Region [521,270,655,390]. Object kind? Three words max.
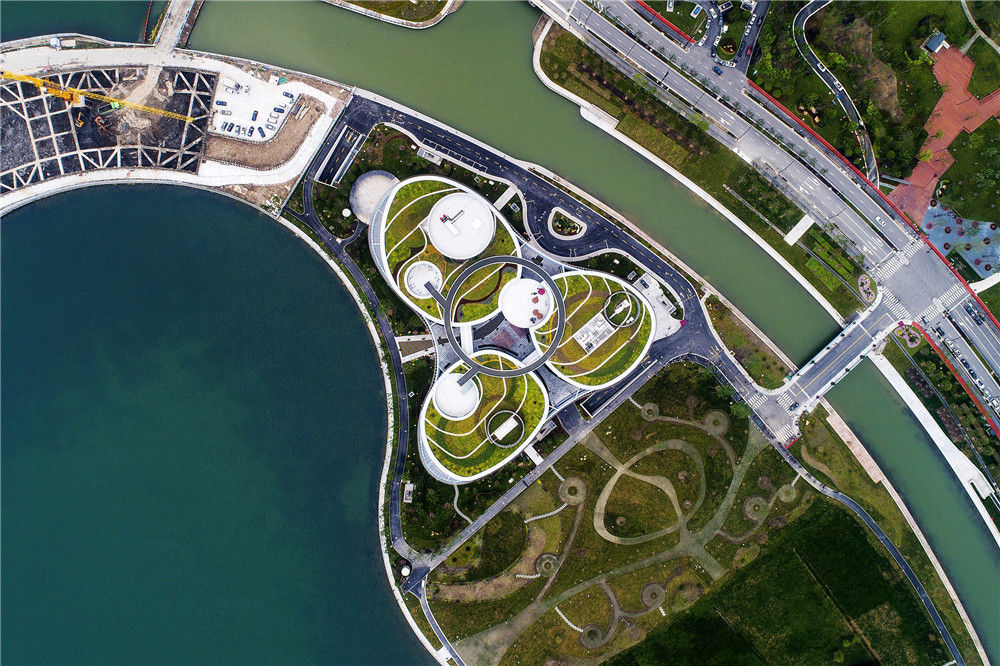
building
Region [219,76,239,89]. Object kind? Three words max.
vehicle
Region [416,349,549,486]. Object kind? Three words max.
building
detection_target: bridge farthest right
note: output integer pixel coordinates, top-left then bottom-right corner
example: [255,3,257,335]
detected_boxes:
[796,312,887,413]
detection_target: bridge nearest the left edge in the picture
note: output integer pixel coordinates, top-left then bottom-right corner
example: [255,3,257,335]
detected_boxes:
[153,0,203,48]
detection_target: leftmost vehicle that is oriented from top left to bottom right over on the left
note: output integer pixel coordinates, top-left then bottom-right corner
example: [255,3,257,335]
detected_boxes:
[92,113,108,133]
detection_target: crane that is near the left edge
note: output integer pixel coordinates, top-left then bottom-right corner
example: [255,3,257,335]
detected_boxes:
[0,65,193,123]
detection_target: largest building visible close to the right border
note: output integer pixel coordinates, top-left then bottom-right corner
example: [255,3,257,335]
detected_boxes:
[921,29,951,54]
